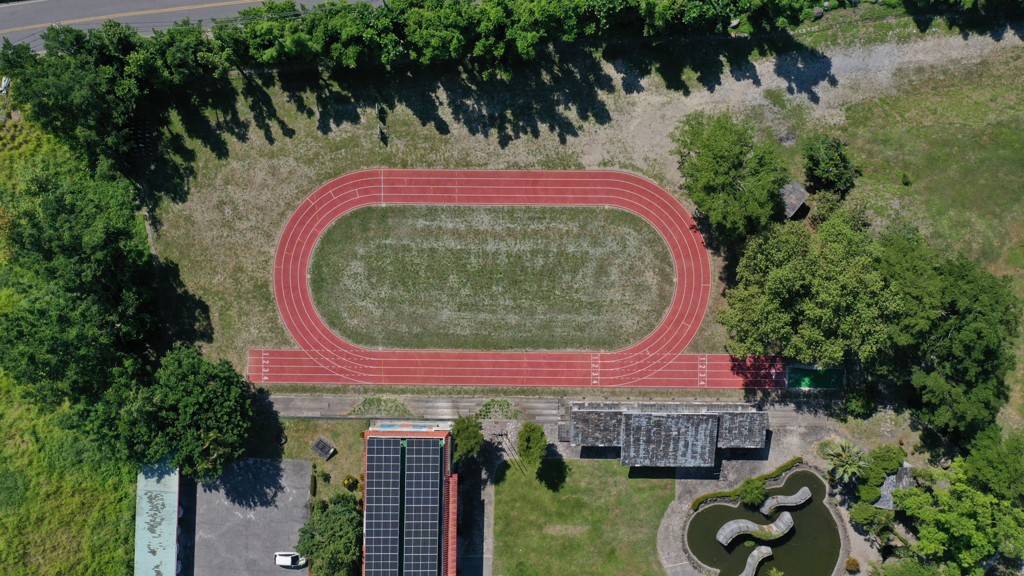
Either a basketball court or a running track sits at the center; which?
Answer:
running track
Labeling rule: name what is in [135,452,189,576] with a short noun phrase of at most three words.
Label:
shed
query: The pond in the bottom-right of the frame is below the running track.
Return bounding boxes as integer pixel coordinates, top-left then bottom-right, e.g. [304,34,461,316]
[678,462,850,576]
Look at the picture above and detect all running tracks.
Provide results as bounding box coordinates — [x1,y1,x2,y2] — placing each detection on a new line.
[247,169,785,388]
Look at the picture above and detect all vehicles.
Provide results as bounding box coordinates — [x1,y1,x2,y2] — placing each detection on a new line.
[274,550,306,567]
